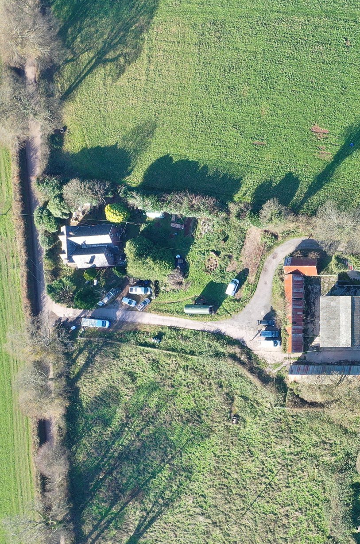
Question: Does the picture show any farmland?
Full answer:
Yes, there's farmland in this view.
